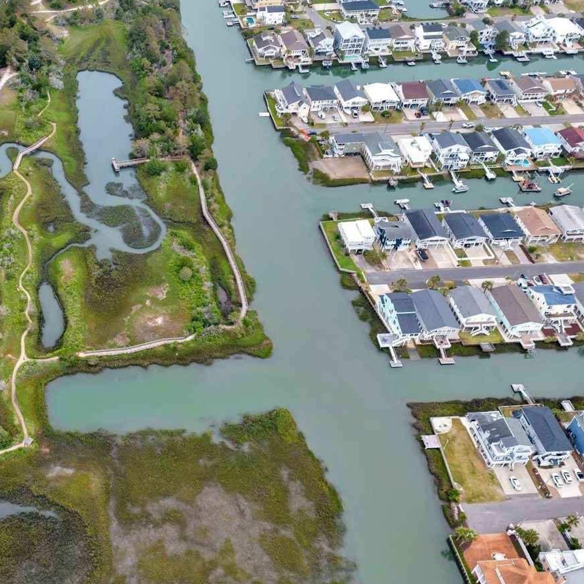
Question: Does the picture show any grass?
Yes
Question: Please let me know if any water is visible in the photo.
Yes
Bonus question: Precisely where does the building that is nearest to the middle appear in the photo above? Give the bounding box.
[336,222,376,252]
